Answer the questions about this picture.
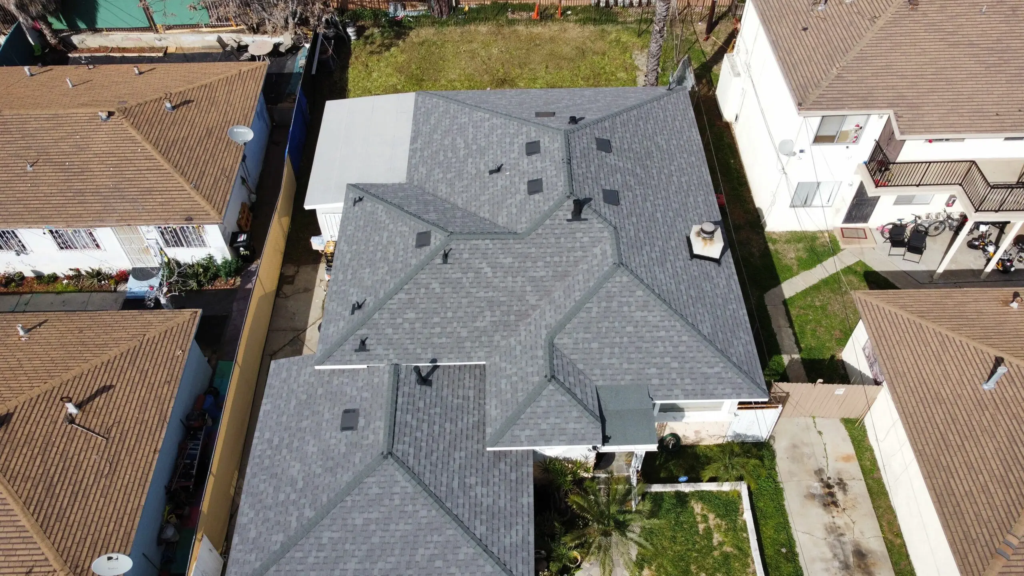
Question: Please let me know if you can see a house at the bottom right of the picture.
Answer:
Yes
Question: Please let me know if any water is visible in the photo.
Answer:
No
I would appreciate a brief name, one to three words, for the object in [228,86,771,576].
house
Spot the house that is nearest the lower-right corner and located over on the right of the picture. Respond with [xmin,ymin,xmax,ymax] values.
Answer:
[841,287,1024,576]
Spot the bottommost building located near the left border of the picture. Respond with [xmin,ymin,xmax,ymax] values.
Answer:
[0,308,214,576]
